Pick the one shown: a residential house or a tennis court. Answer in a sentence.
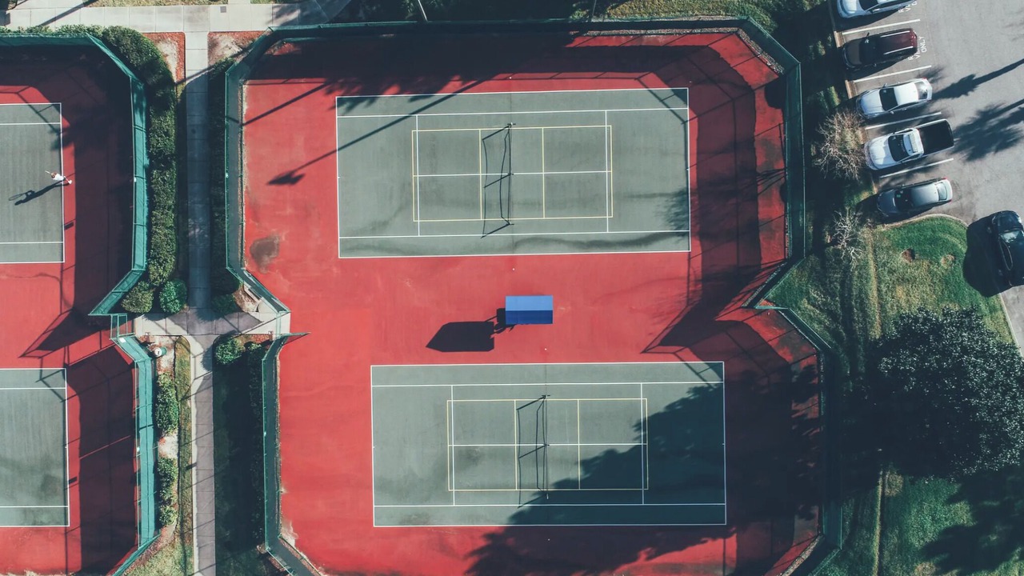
Of the two, only a tennis court appears.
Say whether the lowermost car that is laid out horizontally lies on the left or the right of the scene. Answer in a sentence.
It is on the right.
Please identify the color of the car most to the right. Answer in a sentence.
The color of the car most to the right is black.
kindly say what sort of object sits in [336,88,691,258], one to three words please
tennis court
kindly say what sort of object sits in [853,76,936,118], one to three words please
car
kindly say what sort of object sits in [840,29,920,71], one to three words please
car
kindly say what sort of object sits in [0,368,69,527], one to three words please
tennis court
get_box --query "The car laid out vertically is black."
[991,209,1024,287]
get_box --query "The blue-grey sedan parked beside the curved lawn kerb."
[874,177,956,219]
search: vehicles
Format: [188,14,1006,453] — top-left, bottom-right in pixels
[853,76,936,118]
[835,0,913,18]
[874,177,956,219]
[860,121,957,170]
[991,209,1024,287]
[840,29,920,71]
